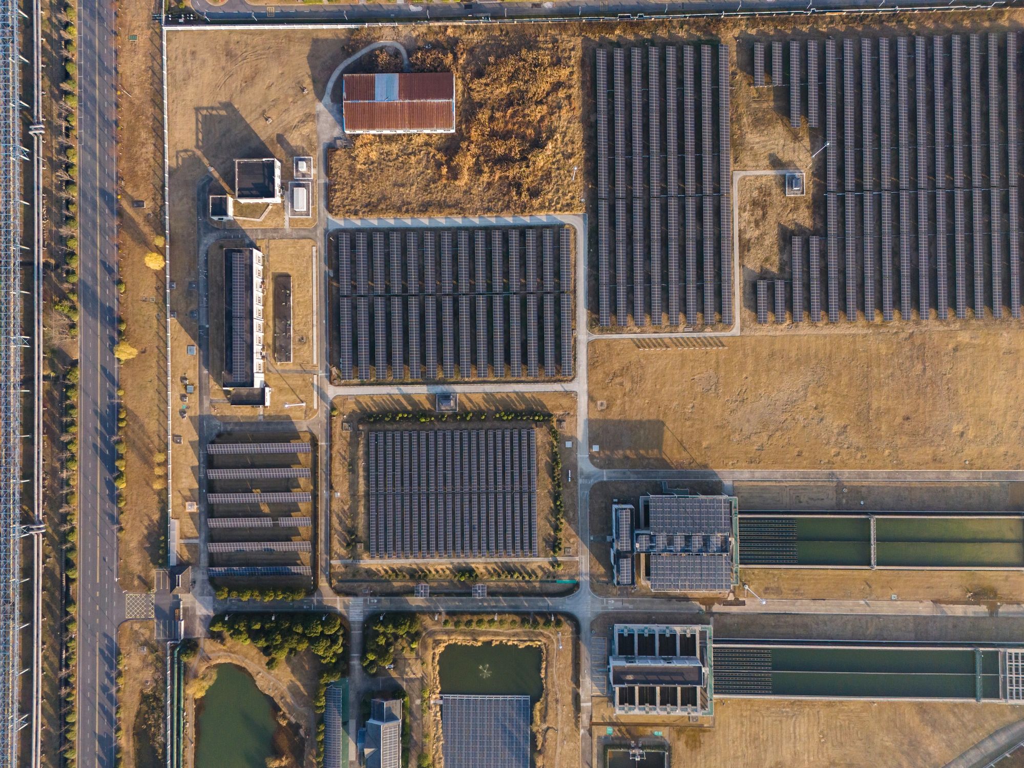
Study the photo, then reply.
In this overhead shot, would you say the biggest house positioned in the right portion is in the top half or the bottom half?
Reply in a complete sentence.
The bottom half of the photo is where the biggest house positioned in the right portion is.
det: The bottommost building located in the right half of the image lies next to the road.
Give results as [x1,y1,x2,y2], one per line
[606,622,714,716]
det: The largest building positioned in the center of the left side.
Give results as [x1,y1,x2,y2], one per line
[223,248,267,388]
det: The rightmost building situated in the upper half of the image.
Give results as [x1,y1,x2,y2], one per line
[343,73,455,134]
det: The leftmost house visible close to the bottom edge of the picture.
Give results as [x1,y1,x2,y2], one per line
[358,695,403,768]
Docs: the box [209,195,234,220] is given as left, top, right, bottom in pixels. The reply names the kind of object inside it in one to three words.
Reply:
building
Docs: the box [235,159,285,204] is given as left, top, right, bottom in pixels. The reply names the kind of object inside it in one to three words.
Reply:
building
